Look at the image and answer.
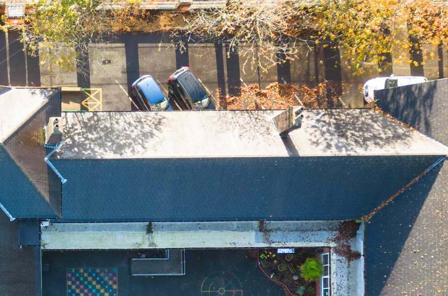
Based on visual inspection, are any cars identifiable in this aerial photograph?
Yes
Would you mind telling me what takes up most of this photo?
buildings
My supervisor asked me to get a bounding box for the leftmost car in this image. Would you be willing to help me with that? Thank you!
[131,72,173,109]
